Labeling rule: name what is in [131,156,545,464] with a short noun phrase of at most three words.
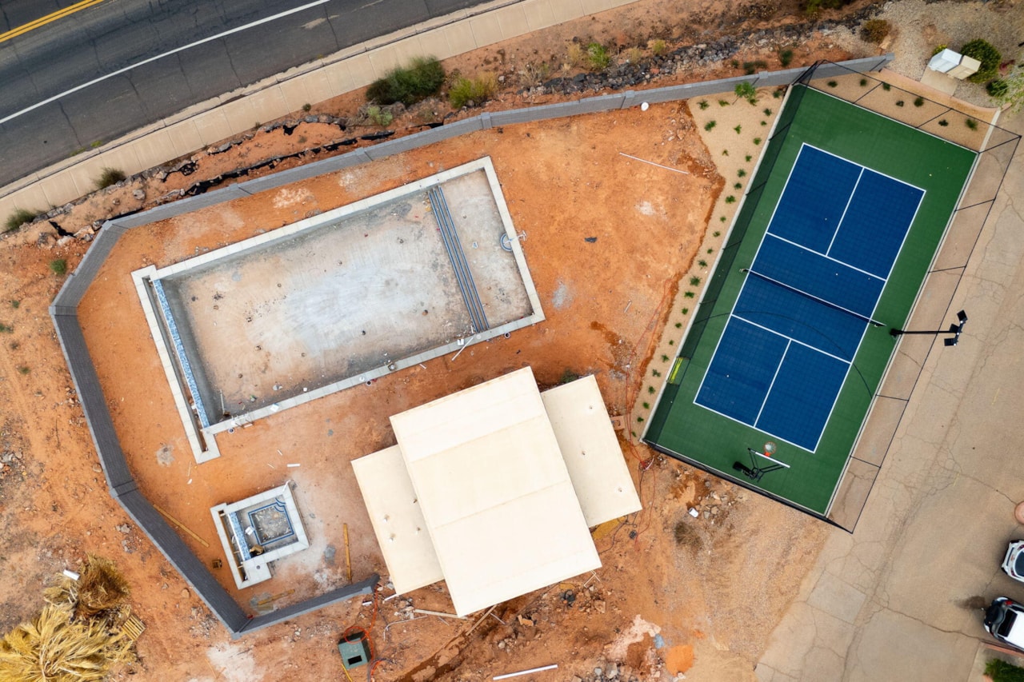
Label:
swimming pool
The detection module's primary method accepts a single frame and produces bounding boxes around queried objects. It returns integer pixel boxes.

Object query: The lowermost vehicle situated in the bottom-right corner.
[978,593,1024,650]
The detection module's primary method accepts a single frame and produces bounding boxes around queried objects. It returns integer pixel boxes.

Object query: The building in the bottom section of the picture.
[351,366,642,618]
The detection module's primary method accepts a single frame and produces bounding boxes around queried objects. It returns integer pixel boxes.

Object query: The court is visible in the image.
[637,86,985,517]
